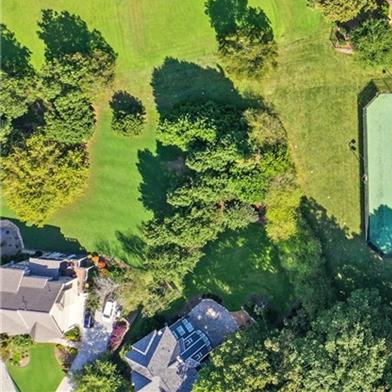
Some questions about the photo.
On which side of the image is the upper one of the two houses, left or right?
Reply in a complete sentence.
It is on the left.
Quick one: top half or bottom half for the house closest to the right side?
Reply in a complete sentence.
The house closest to the right side sits in the bottom half of the picture.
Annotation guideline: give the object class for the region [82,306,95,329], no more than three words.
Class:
vehicle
